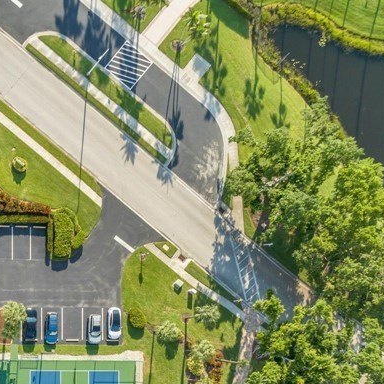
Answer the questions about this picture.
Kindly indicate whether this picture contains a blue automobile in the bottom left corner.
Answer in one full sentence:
Yes, I can see a blue automobile in the bottom left corner.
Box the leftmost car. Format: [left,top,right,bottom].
[23,308,40,341]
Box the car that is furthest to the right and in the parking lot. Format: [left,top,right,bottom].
[105,307,122,339]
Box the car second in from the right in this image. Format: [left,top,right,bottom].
[86,314,103,345]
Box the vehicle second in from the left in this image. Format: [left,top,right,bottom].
[44,312,60,345]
